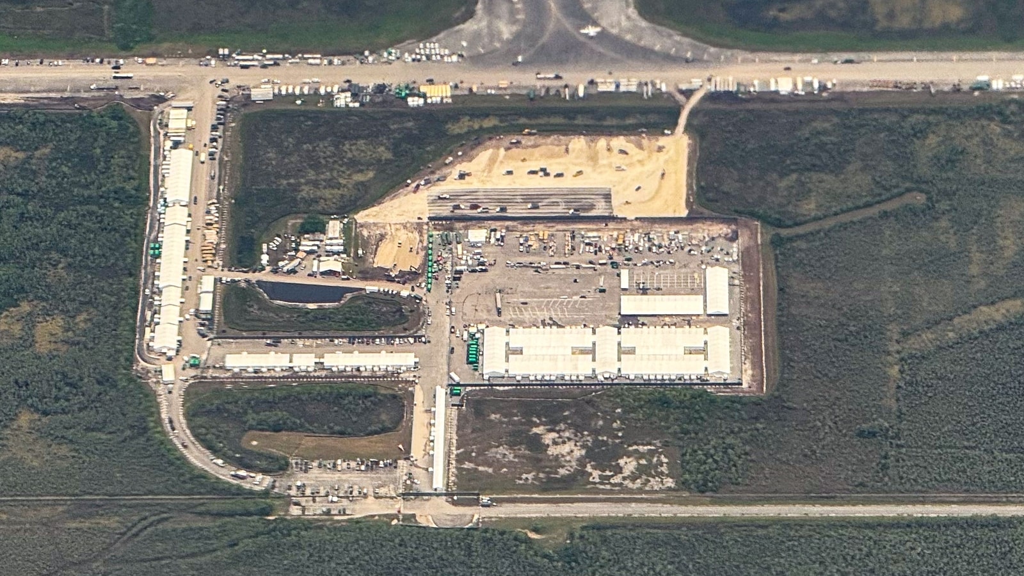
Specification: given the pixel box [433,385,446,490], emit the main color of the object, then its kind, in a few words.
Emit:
white tent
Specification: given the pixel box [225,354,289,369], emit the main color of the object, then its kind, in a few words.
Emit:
white tent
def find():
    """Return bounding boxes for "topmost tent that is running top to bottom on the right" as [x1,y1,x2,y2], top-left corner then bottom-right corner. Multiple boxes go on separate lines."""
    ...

[706,266,729,317]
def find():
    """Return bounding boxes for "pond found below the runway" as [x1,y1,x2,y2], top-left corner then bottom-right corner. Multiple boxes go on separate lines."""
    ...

[257,280,364,304]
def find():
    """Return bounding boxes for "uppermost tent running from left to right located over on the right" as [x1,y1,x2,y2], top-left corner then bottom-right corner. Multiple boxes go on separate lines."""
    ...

[621,296,704,317]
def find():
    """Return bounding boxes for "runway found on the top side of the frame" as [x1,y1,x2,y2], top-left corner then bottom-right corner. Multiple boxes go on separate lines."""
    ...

[0,61,1024,83]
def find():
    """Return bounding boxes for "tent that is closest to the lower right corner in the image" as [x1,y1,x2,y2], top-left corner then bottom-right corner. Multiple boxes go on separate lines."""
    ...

[708,326,730,377]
